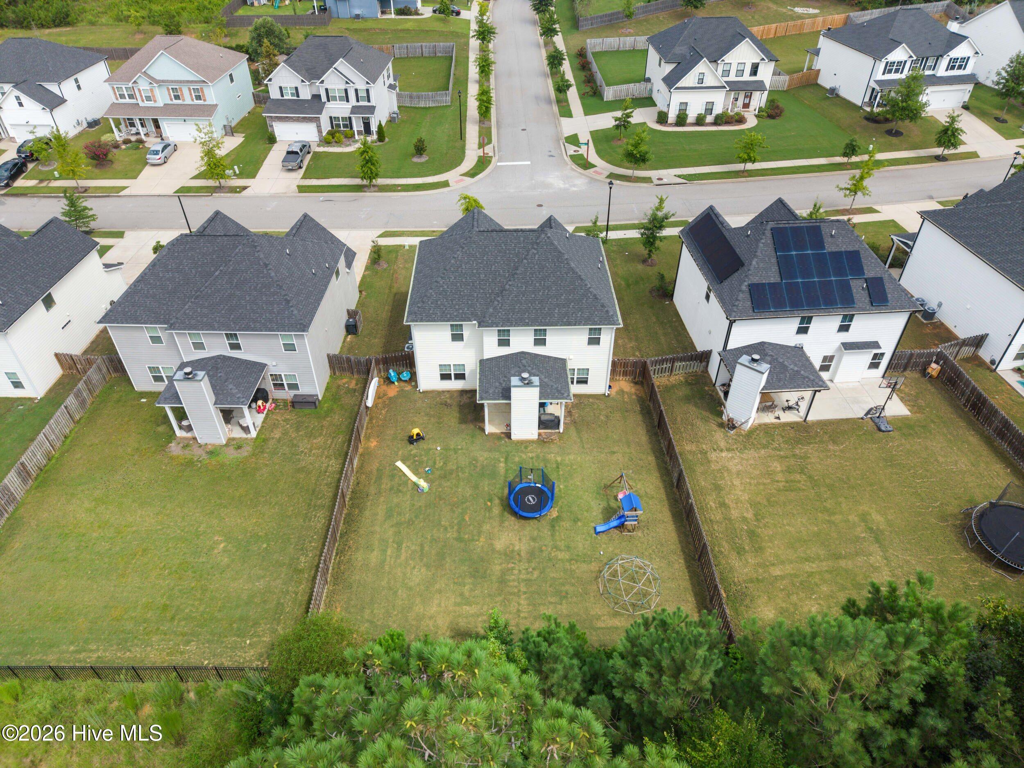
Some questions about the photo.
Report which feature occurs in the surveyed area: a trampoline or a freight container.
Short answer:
trampoline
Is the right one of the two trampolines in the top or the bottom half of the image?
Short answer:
bottom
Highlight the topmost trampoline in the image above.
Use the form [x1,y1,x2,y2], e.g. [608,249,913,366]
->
[508,465,556,524]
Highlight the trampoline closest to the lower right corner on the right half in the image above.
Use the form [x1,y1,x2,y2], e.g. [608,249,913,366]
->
[945,481,1024,573]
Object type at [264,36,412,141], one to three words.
house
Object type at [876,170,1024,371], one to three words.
house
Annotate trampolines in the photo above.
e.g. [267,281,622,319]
[508,465,556,524]
[945,481,1024,573]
